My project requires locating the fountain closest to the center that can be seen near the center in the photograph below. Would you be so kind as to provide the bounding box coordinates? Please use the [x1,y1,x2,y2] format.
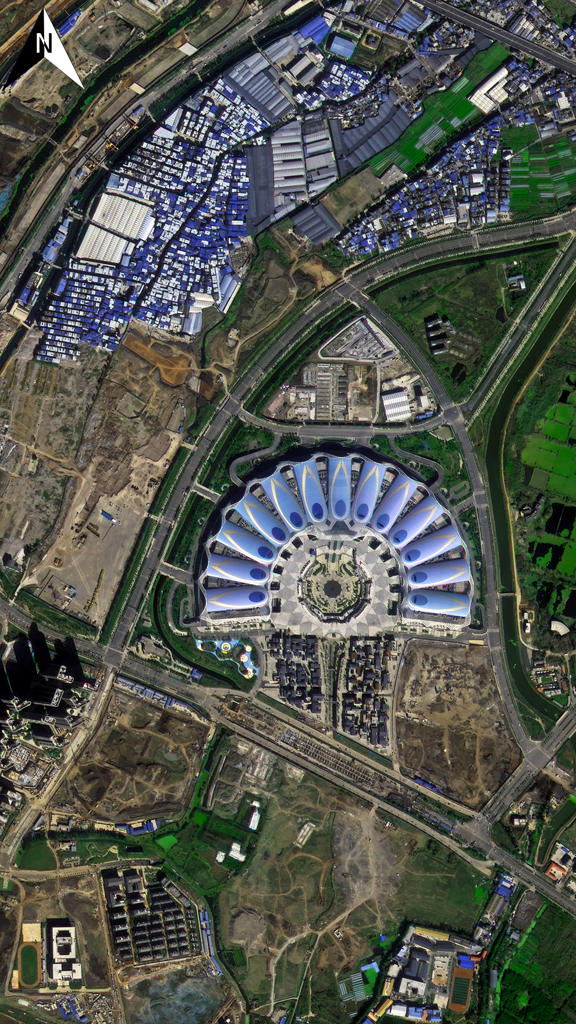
[324,580,342,598]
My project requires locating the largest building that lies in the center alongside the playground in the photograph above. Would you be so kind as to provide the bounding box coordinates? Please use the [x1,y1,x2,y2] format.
[198,453,474,630]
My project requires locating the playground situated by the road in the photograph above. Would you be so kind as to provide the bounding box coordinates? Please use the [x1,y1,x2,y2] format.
[192,635,258,680]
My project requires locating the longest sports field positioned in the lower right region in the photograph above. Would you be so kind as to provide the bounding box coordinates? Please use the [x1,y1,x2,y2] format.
[449,968,473,1012]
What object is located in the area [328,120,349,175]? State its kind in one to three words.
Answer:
shed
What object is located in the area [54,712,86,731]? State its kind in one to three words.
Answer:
building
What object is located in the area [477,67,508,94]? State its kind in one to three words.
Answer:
building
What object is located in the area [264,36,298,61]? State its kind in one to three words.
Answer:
shed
